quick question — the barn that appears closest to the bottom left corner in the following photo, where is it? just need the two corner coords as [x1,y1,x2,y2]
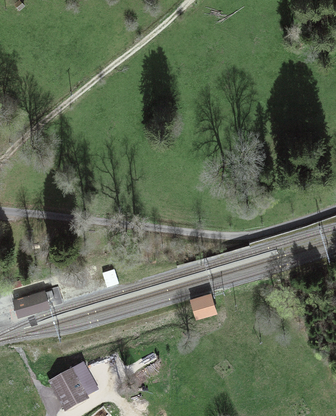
[50,367,90,410]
